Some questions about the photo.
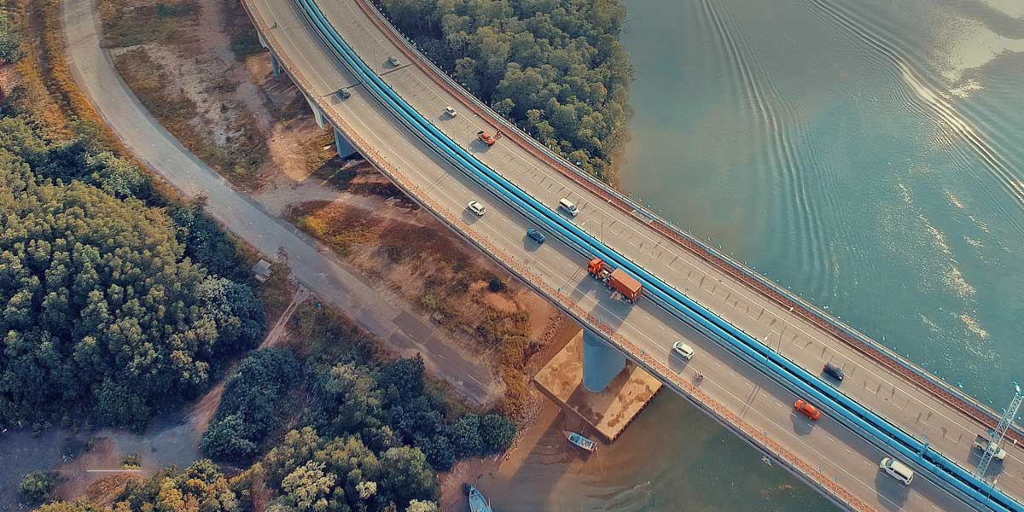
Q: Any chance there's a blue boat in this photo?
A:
Yes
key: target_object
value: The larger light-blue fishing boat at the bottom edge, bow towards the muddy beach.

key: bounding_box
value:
[471,481,497,512]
